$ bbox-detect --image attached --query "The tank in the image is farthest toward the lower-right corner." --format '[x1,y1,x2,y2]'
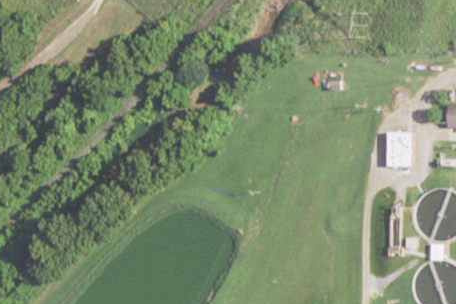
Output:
[412,260,456,304]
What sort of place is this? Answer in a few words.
industrial area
